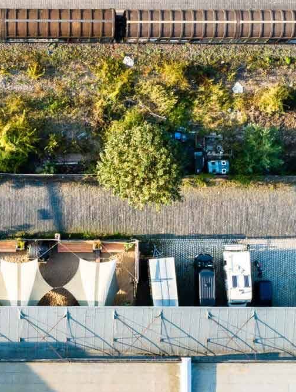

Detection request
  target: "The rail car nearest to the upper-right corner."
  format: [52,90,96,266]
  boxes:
[117,8,296,45]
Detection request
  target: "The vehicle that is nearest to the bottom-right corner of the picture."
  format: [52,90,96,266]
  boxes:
[252,282,273,307]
